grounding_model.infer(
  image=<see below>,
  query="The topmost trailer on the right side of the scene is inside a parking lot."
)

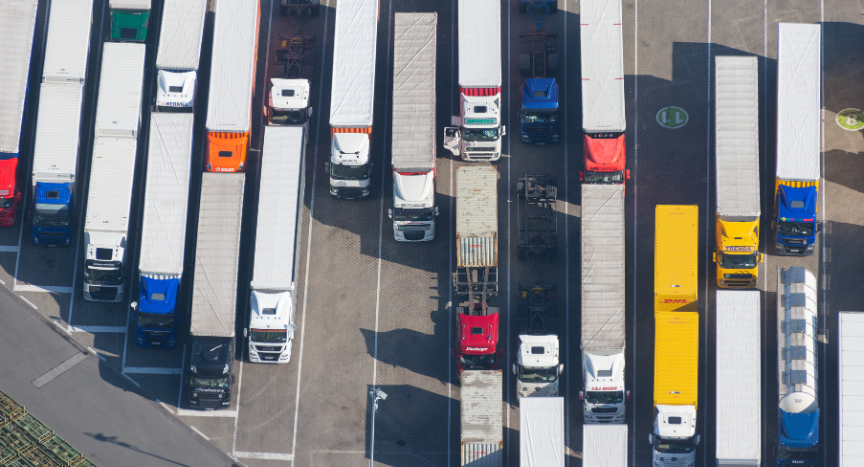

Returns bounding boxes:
[518,0,559,34]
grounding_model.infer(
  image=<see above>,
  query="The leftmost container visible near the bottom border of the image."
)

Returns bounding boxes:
[460,369,504,467]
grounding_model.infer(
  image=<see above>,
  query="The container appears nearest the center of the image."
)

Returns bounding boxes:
[456,166,499,269]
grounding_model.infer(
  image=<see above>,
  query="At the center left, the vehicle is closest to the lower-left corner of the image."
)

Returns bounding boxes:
[77,232,130,301]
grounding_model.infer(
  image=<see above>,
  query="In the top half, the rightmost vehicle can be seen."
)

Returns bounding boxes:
[770,22,824,254]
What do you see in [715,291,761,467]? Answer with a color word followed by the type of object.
white truck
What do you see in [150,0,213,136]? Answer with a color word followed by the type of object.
white truck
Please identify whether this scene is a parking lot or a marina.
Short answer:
parking lot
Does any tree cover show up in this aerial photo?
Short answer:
No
